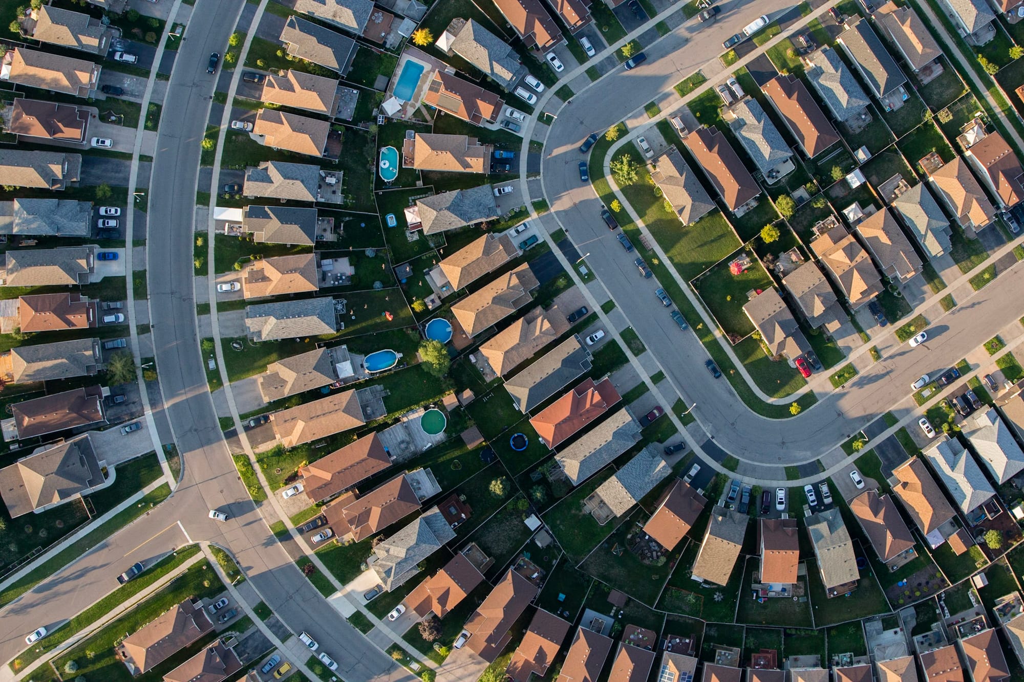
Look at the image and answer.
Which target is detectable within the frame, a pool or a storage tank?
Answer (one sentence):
The image shows a pool.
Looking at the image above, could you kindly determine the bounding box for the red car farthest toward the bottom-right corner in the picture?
[796,356,813,379]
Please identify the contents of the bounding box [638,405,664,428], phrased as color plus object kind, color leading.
black truck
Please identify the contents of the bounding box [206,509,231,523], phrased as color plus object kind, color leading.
white car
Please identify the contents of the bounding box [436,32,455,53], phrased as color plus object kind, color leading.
white gazebo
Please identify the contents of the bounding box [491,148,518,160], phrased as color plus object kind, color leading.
blue vehicle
